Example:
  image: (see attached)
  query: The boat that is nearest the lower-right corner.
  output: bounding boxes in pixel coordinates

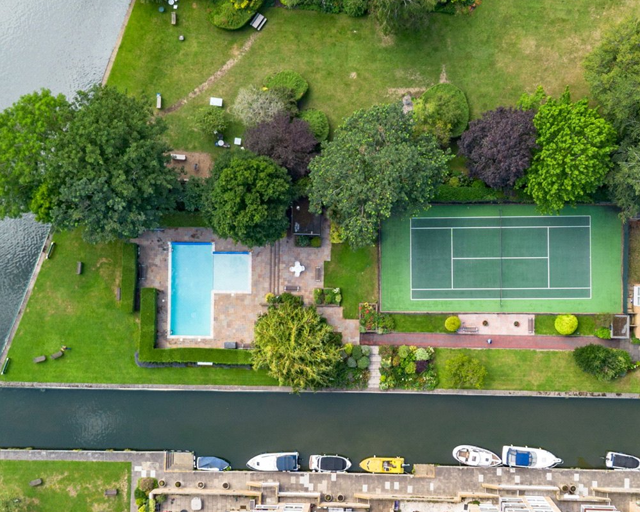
[604,451,640,468]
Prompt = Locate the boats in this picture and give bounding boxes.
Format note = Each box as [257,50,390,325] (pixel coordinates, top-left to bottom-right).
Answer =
[360,457,408,474]
[604,451,640,468]
[502,445,562,468]
[246,452,302,472]
[453,445,502,466]
[195,454,229,471]
[308,455,350,473]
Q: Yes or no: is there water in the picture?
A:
Yes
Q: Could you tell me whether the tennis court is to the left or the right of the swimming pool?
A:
to the right of it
